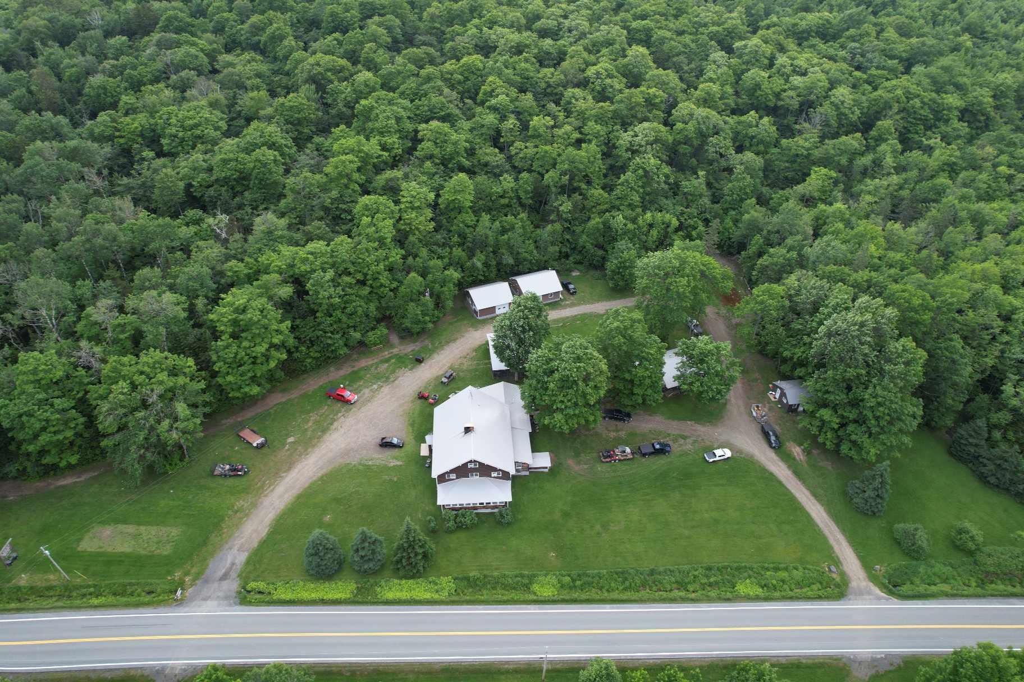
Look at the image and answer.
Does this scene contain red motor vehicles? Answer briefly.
Yes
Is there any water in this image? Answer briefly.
No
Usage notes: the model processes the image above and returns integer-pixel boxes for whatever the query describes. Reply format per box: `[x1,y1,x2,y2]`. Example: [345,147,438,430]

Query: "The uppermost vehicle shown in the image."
[559,281,580,296]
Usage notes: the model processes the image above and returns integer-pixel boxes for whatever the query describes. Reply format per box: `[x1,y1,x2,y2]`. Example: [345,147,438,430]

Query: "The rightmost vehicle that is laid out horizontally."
[703,448,733,463]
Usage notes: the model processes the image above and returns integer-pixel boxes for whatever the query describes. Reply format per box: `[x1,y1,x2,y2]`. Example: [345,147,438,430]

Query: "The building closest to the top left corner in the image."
[466,280,513,318]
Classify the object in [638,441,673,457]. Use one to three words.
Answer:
vehicle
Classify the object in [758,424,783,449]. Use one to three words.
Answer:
truck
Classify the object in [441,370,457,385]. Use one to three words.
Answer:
vehicle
